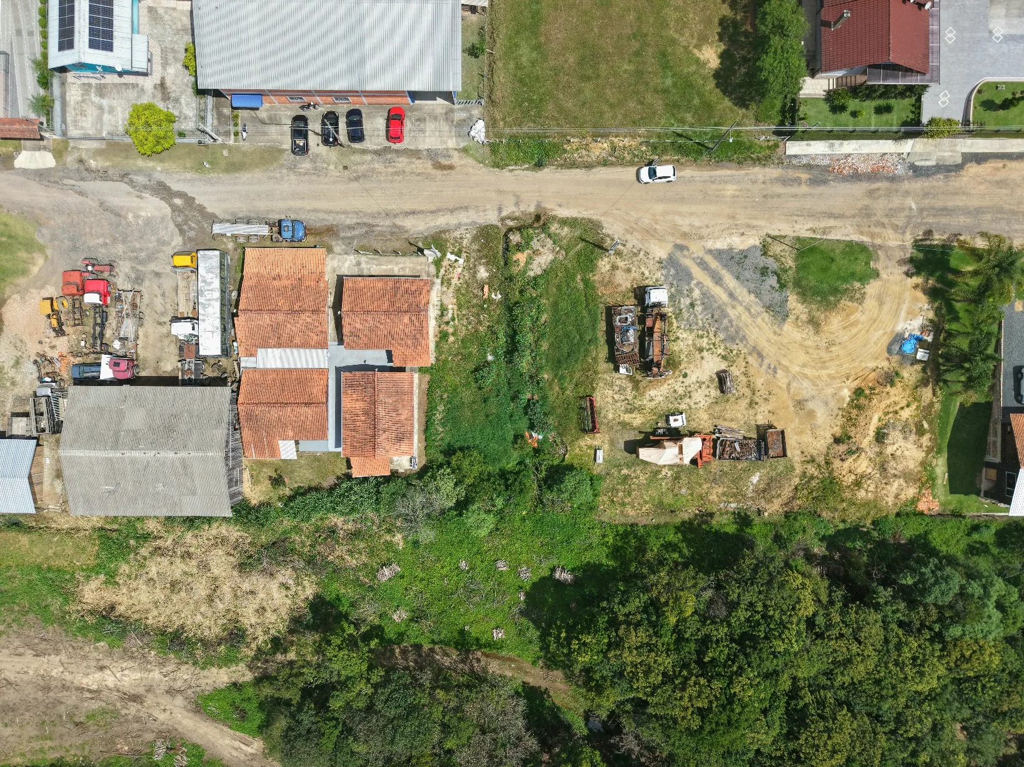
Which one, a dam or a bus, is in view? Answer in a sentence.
It is a bus that can be seen here.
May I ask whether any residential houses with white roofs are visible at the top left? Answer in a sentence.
Yes, a residential house with a white roof is visible at the top left.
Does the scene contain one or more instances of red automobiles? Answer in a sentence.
Yes, there's a red automobile down there.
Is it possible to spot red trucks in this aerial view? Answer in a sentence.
Yes, a red truck can be made out from above.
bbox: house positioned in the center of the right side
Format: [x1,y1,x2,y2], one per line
[979,413,1024,516]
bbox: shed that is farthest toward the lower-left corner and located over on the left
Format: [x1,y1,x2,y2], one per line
[0,439,55,513]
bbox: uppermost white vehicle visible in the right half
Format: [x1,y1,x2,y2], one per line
[640,162,677,182]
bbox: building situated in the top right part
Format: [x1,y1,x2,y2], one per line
[812,0,942,100]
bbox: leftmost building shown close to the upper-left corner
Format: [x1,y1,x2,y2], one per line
[48,0,160,81]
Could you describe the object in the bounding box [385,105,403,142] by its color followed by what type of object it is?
red car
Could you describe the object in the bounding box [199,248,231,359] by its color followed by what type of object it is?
white bus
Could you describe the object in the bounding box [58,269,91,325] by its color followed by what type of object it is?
red truck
